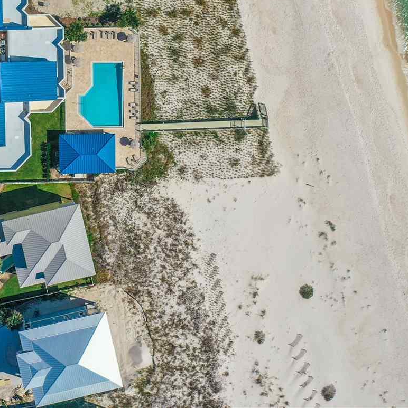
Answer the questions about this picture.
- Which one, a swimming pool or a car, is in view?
swimming pool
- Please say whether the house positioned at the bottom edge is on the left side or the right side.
left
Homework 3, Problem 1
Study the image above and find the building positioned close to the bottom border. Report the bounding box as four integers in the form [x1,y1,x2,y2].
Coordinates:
[16,301,123,408]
